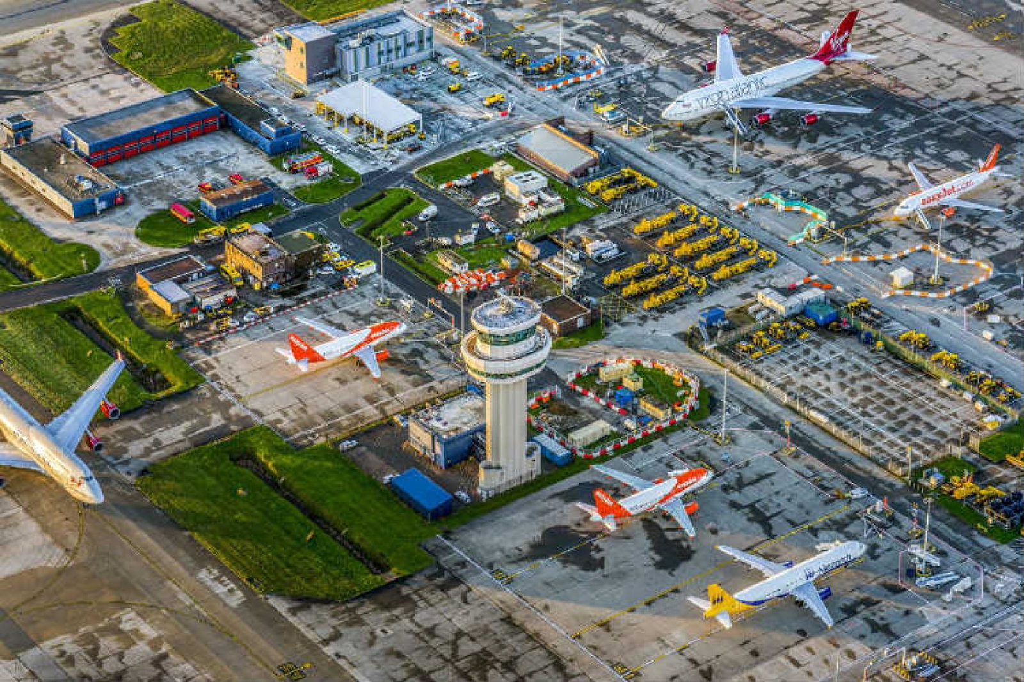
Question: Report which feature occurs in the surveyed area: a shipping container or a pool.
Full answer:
The one in the frame is a shipping container.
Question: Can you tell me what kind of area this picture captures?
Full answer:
This looks like an airport.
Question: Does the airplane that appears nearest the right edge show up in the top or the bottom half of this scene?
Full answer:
The airplane that appears nearest the right edge sits in the top half of the picture.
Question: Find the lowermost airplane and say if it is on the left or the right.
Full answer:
It is on the right.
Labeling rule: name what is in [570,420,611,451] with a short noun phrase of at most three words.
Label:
shipping container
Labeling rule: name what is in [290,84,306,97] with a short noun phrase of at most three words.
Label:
vehicle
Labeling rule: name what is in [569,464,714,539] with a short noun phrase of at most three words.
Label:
airplane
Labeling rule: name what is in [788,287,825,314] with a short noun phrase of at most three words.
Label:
building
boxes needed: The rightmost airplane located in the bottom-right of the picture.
[684,540,866,626]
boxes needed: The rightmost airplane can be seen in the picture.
[895,147,1012,220]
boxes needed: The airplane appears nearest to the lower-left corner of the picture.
[0,343,130,506]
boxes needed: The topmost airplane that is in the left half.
[269,316,407,378]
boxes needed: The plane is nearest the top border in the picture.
[661,6,888,129]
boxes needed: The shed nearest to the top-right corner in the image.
[890,268,913,290]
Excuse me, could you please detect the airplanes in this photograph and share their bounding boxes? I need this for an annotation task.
[661,6,888,129]
[269,316,407,378]
[0,343,130,506]
[684,540,866,626]
[895,147,1012,220]
[569,464,714,539]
